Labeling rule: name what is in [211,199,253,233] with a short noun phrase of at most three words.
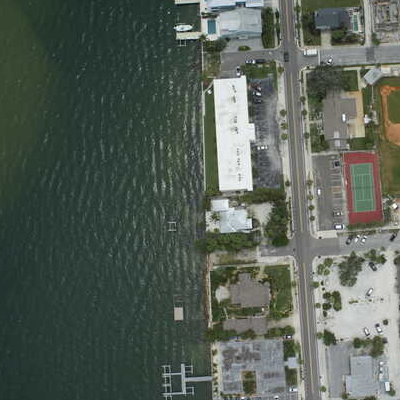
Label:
house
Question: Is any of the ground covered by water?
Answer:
Yes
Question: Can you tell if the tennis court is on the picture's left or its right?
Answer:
right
